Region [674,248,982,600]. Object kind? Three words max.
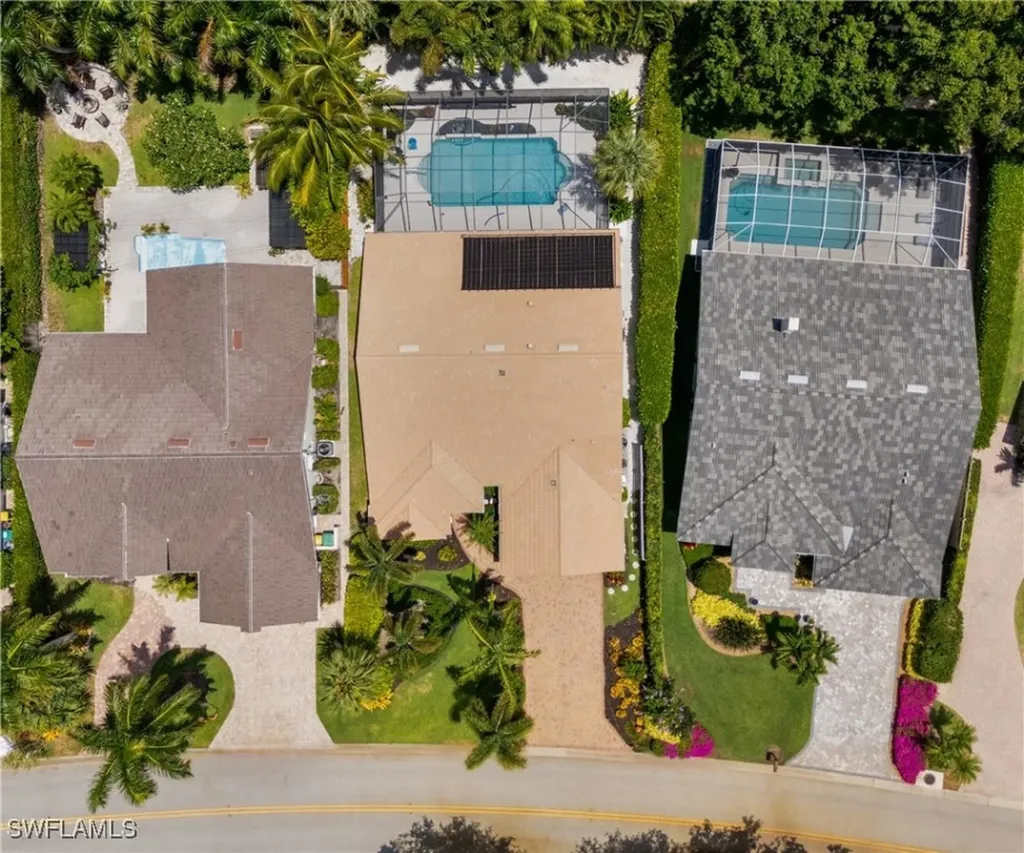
house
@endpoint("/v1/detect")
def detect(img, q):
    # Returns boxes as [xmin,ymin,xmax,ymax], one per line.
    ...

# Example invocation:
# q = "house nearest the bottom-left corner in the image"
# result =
[12,263,323,631]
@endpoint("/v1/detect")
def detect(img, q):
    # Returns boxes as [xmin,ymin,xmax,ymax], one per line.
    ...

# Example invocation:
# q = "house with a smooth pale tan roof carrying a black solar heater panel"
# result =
[356,230,623,577]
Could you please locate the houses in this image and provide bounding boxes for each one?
[356,230,623,577]
[12,263,323,631]
[674,248,982,600]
